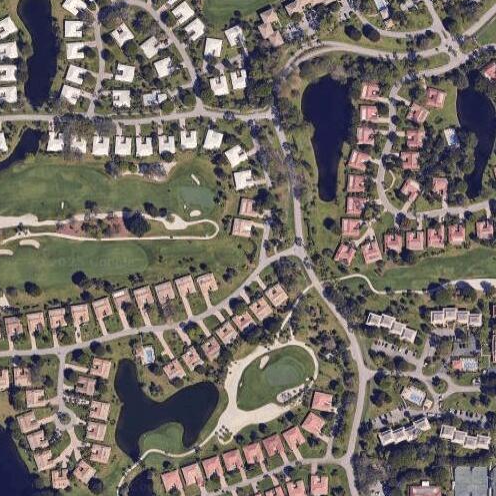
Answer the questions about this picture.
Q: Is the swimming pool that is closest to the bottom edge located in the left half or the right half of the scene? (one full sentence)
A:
You can find the swimming pool that is closest to the bottom edge on the right side of the picture.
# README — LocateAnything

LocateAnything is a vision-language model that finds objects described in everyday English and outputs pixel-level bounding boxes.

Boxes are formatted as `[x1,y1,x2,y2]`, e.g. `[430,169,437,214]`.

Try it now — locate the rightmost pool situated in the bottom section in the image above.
[464,357,478,371]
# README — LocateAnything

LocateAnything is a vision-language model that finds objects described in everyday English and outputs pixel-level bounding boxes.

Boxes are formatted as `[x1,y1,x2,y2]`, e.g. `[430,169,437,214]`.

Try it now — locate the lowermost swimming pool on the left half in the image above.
[143,346,155,363]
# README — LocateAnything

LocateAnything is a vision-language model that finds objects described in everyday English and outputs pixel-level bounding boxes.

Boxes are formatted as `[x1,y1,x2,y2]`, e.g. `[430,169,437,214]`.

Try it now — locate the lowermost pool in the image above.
[402,385,426,406]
